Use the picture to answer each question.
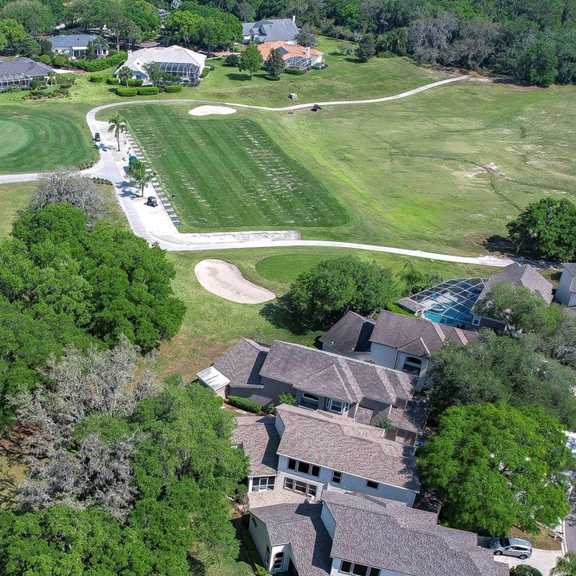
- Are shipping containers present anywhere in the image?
No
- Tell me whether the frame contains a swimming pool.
Yes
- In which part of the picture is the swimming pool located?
right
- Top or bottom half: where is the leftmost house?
top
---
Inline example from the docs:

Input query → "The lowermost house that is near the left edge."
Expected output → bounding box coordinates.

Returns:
[0,55,60,84]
